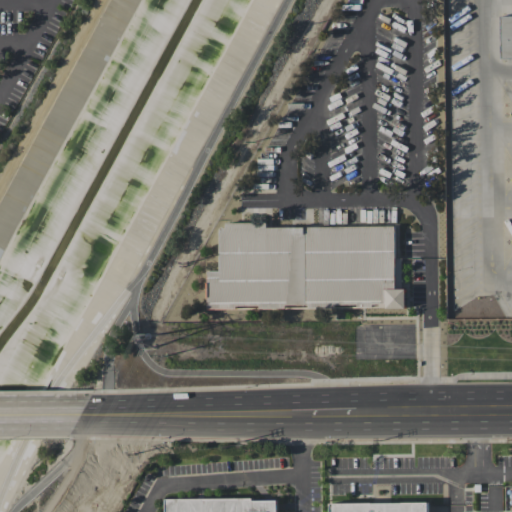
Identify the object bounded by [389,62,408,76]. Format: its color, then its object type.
white camper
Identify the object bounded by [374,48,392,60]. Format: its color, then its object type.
white vehicle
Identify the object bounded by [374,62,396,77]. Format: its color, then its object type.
white camper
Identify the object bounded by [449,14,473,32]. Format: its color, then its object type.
white vehicle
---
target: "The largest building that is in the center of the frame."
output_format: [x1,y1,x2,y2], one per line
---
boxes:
[208,223,404,310]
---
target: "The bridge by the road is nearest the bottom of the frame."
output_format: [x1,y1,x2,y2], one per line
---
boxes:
[0,390,114,439]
